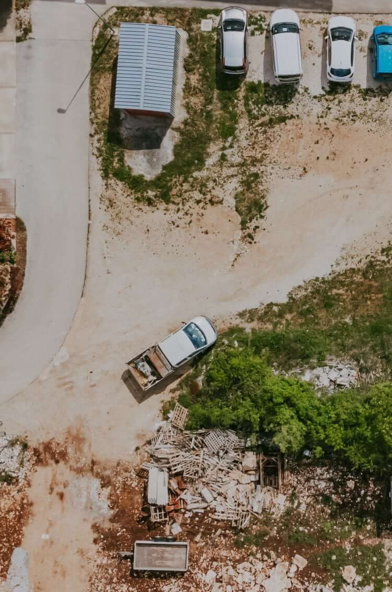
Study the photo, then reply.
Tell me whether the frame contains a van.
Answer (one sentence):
Yes, a van appears in the view.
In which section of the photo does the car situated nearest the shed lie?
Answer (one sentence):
The car situated nearest the shed is in the top part of the image.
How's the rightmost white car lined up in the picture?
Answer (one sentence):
The rightmost white car is oriented vertically.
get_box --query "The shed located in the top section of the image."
[114,23,184,119]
